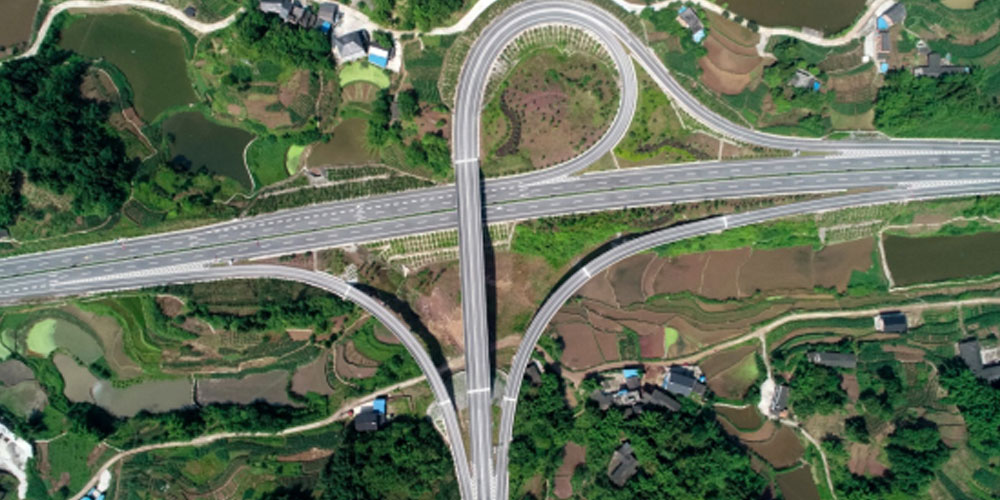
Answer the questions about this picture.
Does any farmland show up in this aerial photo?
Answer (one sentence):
Yes, some farmland is visible.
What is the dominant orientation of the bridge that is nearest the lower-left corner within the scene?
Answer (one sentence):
The bridge that is nearest the lower-left corner is oriented at an angle.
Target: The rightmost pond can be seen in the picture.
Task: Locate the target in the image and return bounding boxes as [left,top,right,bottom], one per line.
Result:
[883,231,1000,287]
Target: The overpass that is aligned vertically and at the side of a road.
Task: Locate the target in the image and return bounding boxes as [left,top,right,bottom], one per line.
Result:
[455,160,490,392]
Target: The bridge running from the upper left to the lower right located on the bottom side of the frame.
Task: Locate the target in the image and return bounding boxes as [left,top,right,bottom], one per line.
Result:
[343,288,450,406]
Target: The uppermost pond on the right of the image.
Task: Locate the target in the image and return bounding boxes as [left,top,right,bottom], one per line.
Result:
[725,0,867,37]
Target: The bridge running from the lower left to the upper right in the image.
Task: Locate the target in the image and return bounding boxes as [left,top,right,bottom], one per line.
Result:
[505,217,730,401]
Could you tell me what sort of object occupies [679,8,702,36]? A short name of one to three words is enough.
house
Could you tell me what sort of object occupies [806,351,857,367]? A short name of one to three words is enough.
barn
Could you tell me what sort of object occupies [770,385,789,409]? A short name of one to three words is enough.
house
